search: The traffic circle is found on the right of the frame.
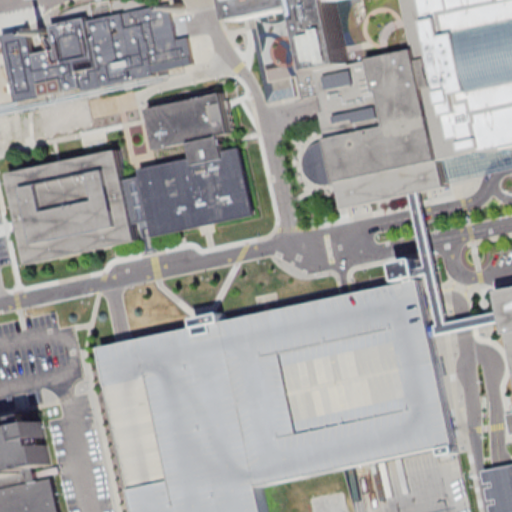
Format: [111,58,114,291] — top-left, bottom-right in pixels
[460,239,490,272]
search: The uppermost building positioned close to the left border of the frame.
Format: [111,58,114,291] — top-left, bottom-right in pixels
[2,6,194,102]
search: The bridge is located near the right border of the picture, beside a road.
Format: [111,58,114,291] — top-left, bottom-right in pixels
[407,186,497,335]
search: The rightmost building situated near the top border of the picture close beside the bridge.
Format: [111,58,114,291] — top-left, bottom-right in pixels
[413,0,512,155]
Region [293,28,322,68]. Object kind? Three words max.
shed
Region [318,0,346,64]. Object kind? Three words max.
shed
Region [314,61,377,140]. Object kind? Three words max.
building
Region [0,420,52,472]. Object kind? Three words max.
building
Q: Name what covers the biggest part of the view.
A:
buildings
